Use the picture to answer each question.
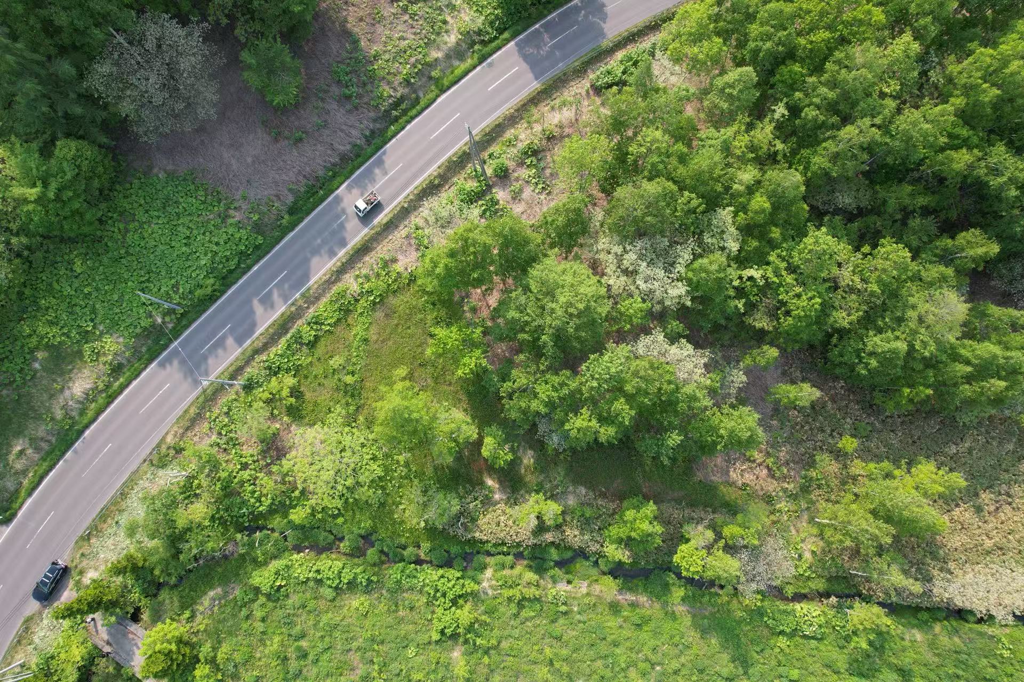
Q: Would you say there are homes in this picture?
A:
No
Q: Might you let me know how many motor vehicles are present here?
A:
2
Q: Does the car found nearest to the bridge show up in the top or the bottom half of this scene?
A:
bottom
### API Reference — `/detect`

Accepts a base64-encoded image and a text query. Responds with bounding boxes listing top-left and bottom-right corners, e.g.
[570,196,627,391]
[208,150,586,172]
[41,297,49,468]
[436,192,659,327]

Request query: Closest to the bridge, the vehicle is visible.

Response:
[36,559,71,602]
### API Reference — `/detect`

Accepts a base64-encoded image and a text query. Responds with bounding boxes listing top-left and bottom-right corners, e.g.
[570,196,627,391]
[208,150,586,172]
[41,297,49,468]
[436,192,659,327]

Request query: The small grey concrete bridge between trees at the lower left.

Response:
[87,607,181,682]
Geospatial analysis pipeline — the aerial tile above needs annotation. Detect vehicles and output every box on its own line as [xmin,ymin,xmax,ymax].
[354,190,381,217]
[36,559,71,602]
